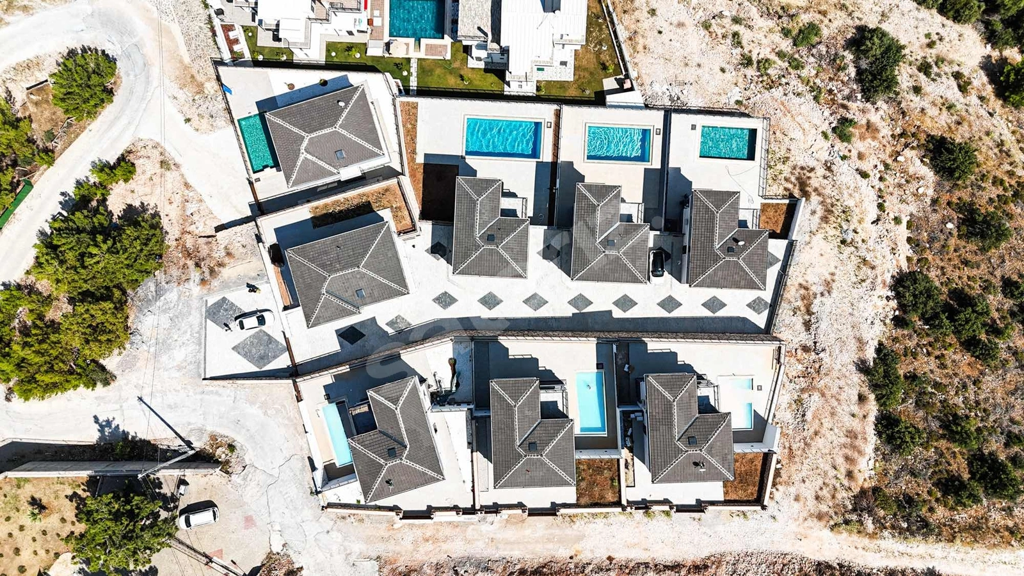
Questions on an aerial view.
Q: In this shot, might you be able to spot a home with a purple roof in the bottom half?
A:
No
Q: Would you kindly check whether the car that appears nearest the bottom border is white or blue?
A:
white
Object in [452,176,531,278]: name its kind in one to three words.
house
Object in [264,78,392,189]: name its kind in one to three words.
house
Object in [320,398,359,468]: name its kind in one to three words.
swimming pool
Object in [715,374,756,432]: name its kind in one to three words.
swimming pool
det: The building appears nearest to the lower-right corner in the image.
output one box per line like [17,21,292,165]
[643,372,736,484]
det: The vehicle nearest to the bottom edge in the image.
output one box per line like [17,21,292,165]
[180,502,221,528]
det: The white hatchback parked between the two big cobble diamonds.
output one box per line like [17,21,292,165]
[236,310,275,330]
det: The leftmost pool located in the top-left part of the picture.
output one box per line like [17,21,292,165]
[235,110,281,176]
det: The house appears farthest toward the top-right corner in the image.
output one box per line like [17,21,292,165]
[684,187,768,292]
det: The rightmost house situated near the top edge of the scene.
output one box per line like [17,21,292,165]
[458,0,586,94]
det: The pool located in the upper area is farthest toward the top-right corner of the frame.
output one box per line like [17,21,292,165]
[695,121,761,165]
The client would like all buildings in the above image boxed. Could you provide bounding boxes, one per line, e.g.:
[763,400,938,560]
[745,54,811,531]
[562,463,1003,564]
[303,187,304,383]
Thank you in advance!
[285,221,415,329]
[684,187,768,292]
[346,370,446,505]
[231,0,366,56]
[458,0,586,94]
[643,372,736,484]
[264,78,392,189]
[489,376,577,490]
[572,181,651,283]
[452,176,531,278]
